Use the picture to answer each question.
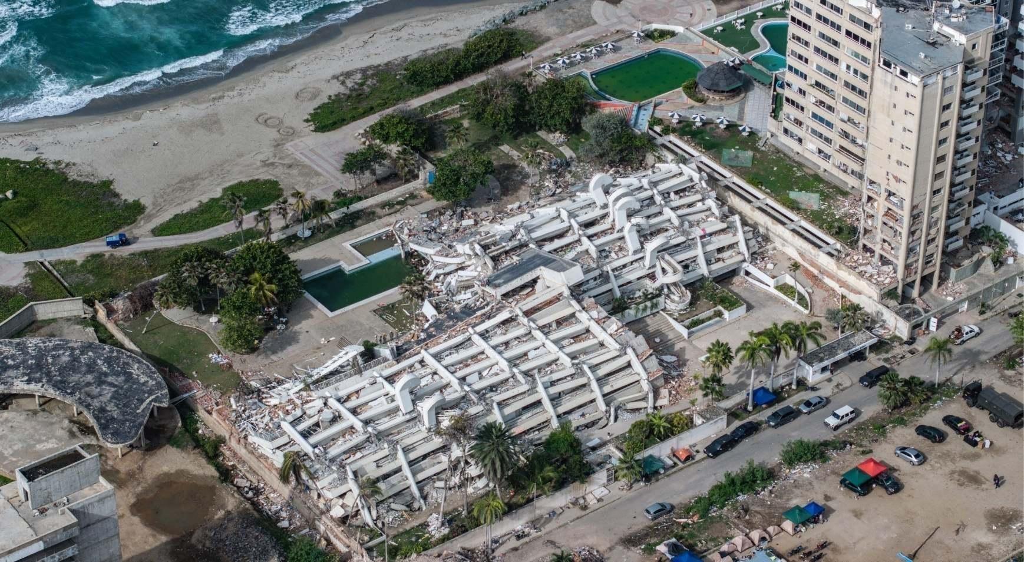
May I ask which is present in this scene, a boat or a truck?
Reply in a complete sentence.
Looking from above, you can make out a truck.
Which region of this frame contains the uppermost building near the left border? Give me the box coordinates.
[0,337,179,478]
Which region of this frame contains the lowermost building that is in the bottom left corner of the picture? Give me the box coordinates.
[0,444,122,562]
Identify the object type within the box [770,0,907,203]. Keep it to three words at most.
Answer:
building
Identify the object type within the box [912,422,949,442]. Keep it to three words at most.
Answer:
car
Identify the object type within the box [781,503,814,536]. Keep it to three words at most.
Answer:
tent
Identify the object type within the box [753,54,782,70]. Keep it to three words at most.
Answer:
swimming pool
